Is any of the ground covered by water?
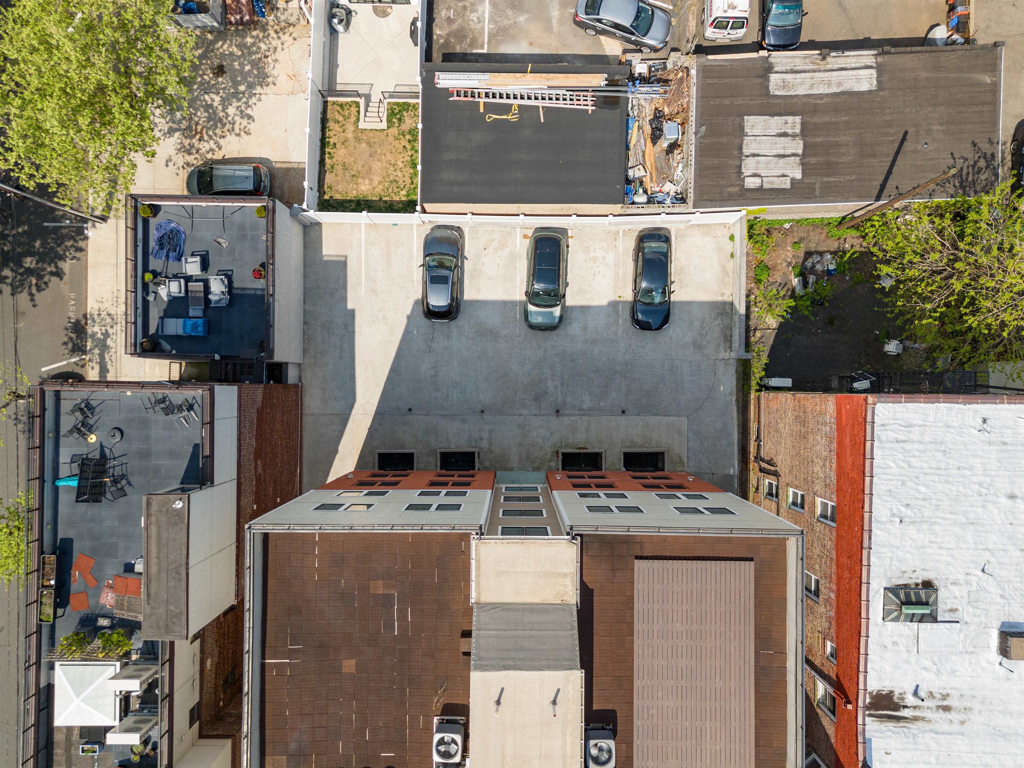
No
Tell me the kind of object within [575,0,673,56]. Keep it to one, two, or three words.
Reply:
car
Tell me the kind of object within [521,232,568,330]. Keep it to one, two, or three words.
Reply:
car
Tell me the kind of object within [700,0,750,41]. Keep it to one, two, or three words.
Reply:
van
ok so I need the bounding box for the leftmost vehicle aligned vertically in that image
[417,229,464,323]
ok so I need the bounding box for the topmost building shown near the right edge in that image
[686,37,1010,220]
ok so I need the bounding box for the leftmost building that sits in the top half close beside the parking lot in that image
[122,192,303,361]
